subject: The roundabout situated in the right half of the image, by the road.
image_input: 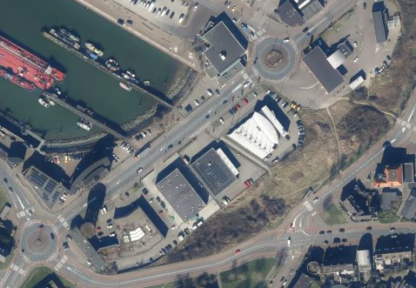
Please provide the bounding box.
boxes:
[250,35,295,80]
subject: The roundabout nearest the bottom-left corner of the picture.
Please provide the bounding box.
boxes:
[17,220,61,263]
